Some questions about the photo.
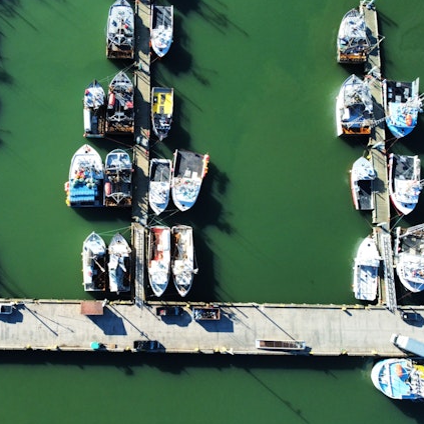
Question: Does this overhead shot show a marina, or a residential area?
marina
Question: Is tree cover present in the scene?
No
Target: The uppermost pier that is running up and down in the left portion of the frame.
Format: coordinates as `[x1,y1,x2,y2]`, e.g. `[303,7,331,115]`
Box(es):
[135,0,151,61]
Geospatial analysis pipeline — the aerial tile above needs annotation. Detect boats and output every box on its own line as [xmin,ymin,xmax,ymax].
[385,154,424,216]
[104,148,133,208]
[83,78,106,139]
[67,142,104,208]
[147,225,171,299]
[106,68,136,138]
[349,237,383,301]
[369,356,424,403]
[169,149,208,213]
[332,71,395,138]
[379,78,424,138]
[348,156,386,211]
[149,3,176,57]
[106,0,136,62]
[147,158,172,216]
[171,225,198,300]
[149,87,174,141]
[334,3,385,67]
[108,233,134,295]
[83,231,106,291]
[390,225,424,294]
